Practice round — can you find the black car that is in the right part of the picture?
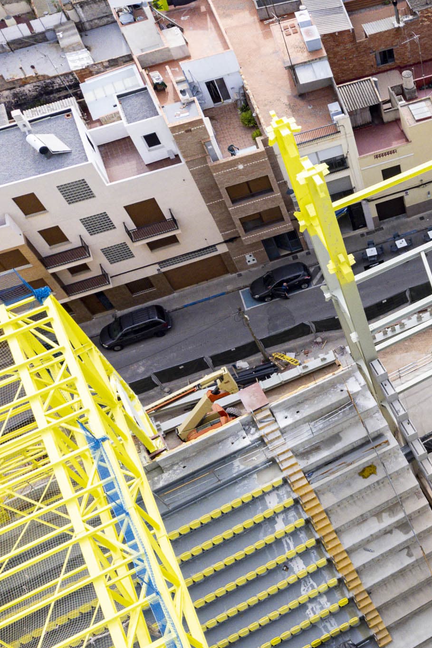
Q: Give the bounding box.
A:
[245,258,317,304]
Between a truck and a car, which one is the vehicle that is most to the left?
car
